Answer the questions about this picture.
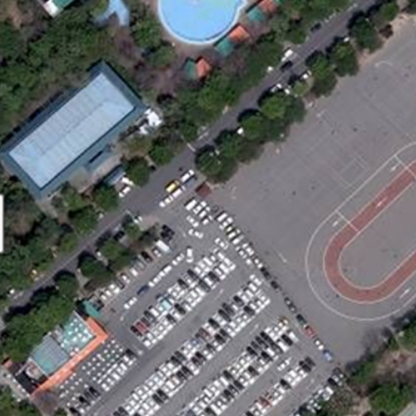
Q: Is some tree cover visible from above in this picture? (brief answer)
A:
Yes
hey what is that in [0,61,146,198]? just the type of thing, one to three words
building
